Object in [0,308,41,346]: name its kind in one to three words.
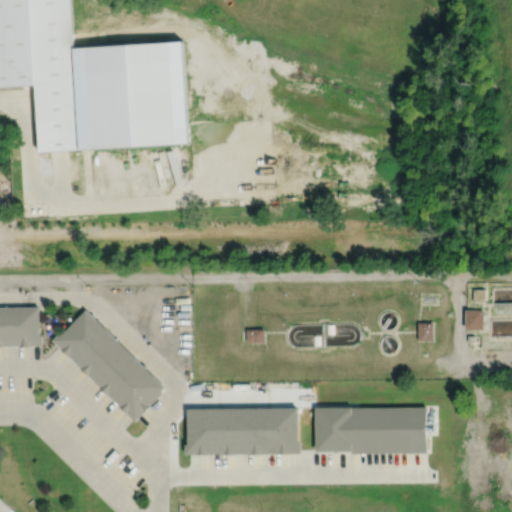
building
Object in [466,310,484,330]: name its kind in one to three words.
building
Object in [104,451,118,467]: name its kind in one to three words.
vehicle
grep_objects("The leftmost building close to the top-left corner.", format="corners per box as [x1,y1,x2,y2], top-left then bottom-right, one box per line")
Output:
[0,0,76,152]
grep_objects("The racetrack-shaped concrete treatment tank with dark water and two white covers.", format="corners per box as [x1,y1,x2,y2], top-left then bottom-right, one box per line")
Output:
[288,320,362,350]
